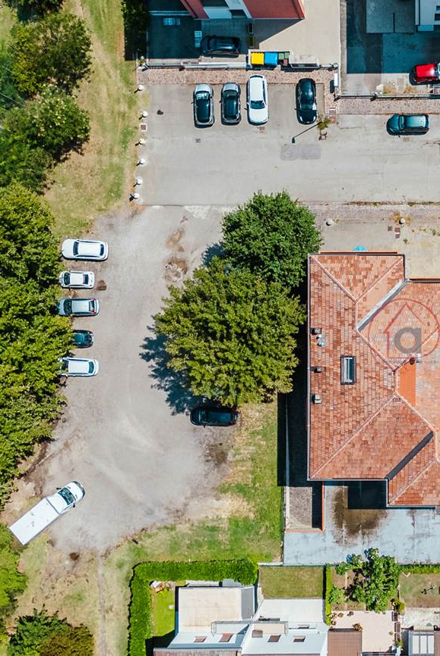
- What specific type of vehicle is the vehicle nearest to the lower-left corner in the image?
truck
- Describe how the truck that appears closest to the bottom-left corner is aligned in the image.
at an angle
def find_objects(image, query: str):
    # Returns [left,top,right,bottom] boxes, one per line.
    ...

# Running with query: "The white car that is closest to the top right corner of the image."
[245,76,268,124]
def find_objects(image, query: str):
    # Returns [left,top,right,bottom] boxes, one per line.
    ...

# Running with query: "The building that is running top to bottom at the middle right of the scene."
[308,250,440,509]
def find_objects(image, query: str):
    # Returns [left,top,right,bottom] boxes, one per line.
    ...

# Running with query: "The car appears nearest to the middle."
[191,406,237,427]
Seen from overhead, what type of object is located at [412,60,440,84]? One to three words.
car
